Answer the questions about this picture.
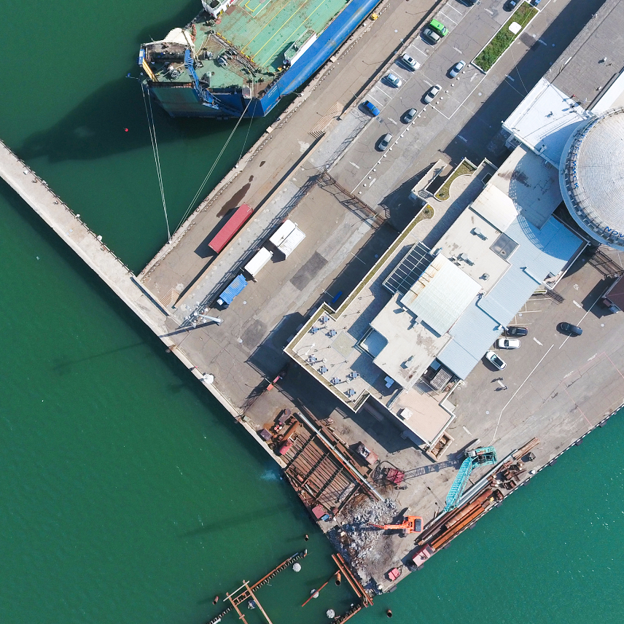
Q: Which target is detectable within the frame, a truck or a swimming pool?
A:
truck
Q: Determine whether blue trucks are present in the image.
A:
Yes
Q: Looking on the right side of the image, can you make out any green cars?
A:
Yes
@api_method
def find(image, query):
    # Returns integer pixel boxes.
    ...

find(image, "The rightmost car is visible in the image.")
[558,321,581,336]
